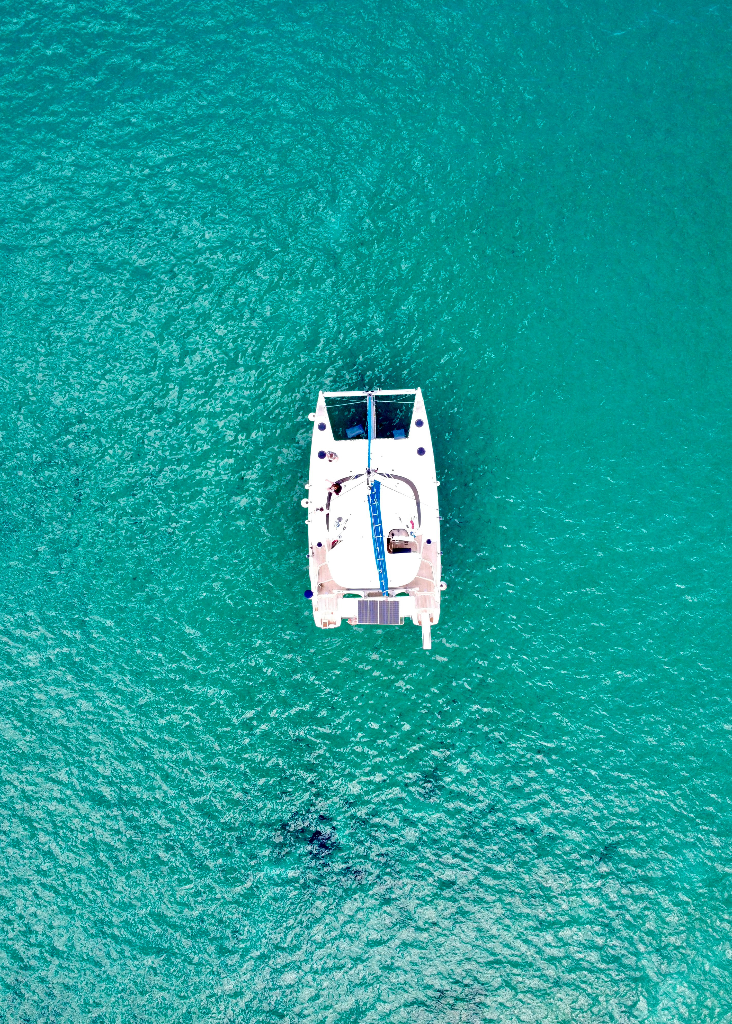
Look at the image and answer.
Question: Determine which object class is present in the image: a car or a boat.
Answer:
boat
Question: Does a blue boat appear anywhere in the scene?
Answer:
No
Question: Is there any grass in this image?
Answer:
No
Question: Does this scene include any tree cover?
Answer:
No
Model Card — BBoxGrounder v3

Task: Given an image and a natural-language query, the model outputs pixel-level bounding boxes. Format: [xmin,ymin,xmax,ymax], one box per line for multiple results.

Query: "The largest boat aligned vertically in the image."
[308,374,441,649]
